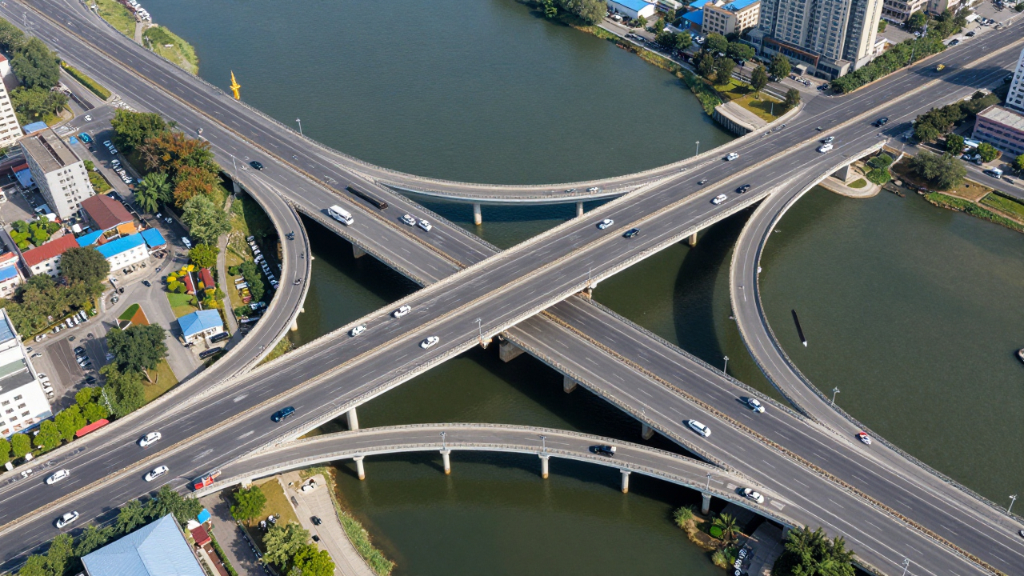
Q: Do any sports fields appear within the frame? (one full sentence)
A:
No, the frame has no sports field in it.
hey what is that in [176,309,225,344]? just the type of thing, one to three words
house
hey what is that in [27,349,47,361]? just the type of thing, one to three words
vehicle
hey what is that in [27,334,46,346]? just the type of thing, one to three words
vehicle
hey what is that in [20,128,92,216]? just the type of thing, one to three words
building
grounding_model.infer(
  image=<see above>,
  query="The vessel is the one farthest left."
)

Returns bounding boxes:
[791,311,806,346]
